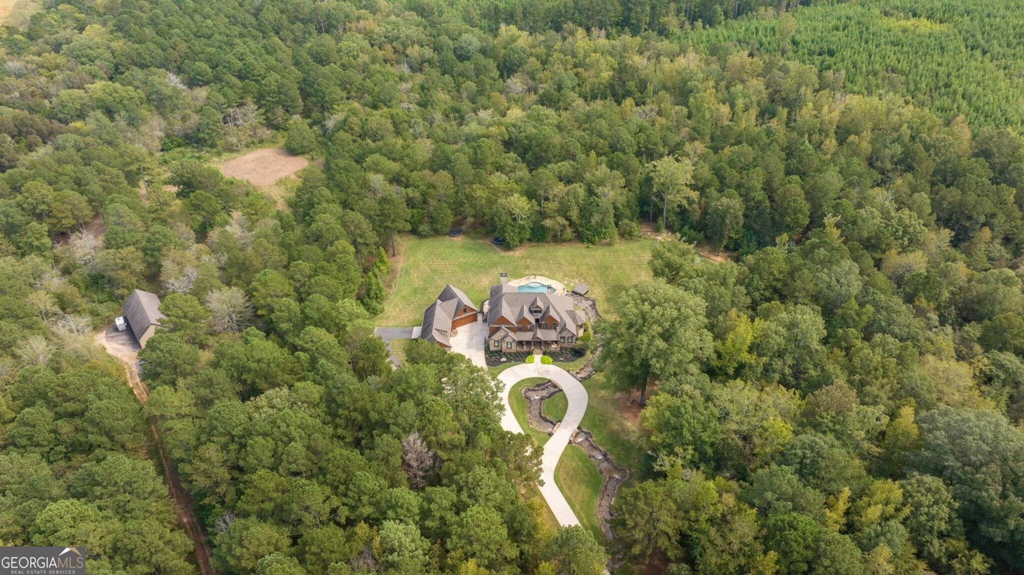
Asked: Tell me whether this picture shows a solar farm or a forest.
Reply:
forest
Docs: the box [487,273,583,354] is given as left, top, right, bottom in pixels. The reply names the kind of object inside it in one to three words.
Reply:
house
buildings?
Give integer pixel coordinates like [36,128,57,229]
[419,284,480,355]
[123,288,168,347]
[487,273,583,354]
[574,283,589,299]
